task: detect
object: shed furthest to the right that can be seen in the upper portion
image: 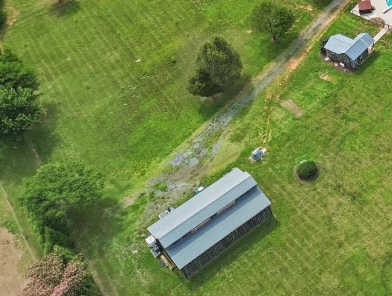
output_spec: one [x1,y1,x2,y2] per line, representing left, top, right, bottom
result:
[325,33,375,68]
